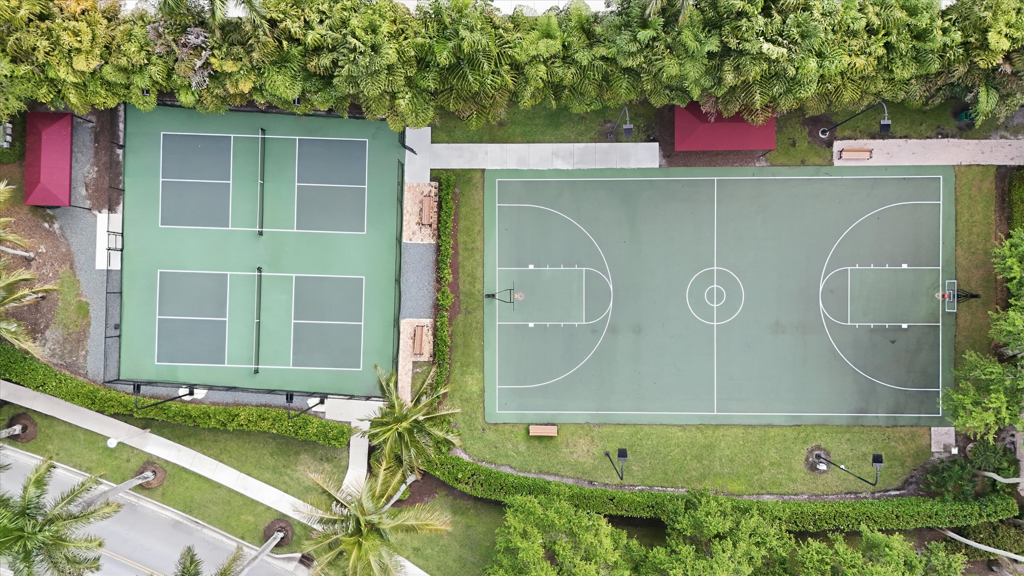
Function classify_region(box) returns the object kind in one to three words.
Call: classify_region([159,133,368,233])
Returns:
sports court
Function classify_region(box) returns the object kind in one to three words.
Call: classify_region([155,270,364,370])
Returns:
sports court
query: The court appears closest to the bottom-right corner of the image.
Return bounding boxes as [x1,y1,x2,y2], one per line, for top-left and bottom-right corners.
[484,165,956,425]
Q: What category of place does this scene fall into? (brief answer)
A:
sports ground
